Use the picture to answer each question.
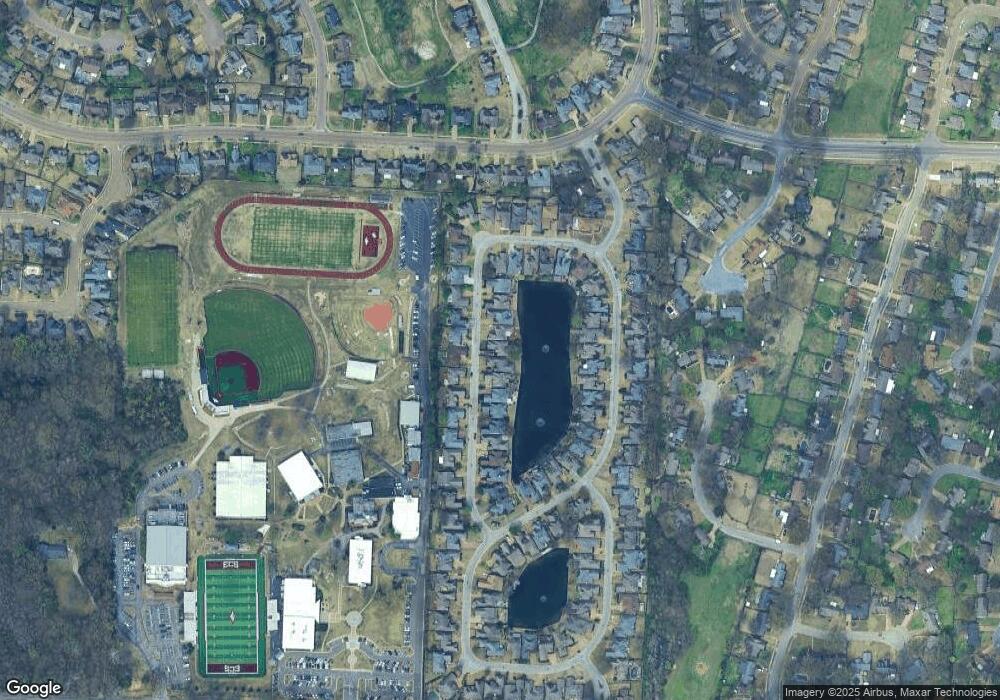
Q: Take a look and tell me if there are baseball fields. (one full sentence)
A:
Yes, you can see a baseball field in this photo.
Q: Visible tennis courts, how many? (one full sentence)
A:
The picture shows no tennis courts.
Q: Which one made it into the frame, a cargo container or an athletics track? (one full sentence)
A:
Visible in the photo is an athletics track.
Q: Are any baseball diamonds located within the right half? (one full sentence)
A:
No, within the right half there is no baseball diamond.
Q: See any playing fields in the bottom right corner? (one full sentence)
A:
No, I see no playing field in the bottom right corner.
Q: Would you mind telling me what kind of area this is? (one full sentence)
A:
This looks like a residential area.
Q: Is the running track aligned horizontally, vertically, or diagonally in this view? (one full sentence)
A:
In this picture, the running track is oriented horizontally.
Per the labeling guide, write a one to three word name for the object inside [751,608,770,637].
house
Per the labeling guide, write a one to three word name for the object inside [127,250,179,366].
sports field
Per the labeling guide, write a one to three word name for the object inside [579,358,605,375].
house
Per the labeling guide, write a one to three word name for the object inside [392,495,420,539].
building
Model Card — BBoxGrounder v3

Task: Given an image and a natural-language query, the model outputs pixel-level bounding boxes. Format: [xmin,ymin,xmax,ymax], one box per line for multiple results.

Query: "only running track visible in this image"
[215,196,393,277]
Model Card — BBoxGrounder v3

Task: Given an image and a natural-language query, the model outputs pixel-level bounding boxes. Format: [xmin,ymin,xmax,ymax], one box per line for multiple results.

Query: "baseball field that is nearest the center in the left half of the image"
[331,296,395,362]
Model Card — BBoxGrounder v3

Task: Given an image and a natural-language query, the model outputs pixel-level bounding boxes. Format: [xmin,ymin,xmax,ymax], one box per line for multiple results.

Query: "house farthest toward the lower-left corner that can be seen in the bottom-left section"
[37,545,65,557]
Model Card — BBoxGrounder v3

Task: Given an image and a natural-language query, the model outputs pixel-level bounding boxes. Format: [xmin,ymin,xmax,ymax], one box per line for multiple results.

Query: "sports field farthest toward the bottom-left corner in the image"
[196,554,266,679]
